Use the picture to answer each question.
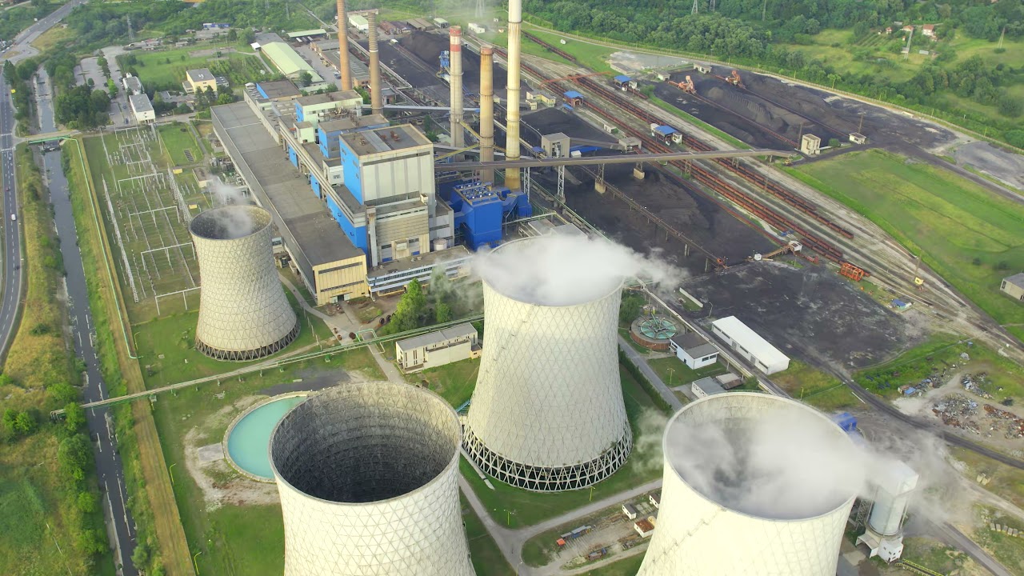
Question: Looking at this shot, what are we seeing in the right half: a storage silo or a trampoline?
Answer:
storage silo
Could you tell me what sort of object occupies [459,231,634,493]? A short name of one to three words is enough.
cooling tower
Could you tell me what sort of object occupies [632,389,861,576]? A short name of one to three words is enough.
cooling tower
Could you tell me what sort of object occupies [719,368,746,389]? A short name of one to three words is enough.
shed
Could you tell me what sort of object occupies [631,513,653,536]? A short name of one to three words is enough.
building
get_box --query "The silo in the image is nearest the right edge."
[847,445,932,559]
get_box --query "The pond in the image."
[224,389,320,475]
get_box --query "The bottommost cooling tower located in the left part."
[266,377,478,576]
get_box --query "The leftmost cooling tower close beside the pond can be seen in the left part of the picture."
[188,201,304,364]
